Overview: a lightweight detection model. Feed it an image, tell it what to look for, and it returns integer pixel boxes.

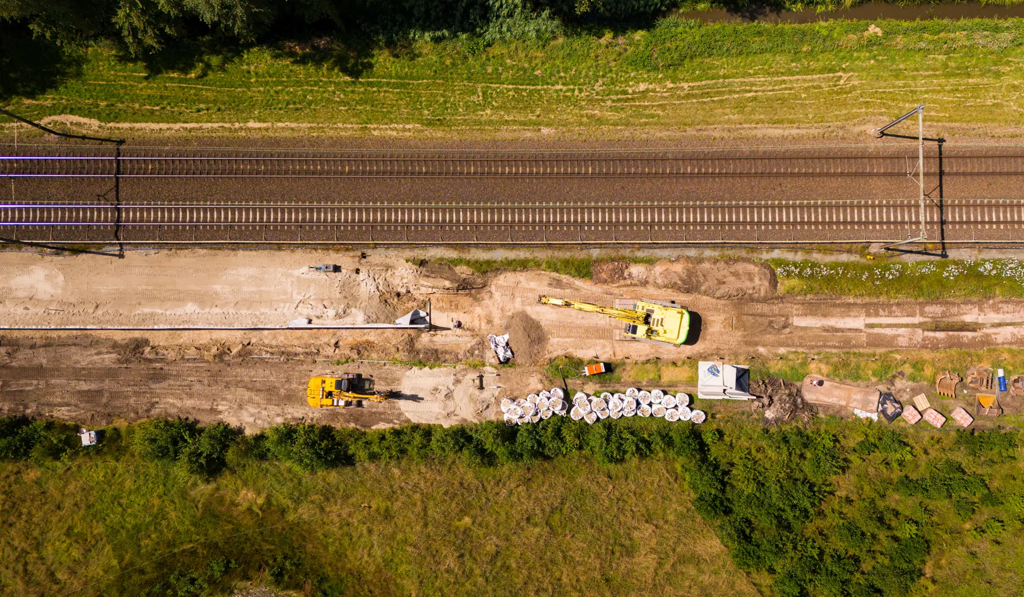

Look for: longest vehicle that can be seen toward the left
[306,375,395,409]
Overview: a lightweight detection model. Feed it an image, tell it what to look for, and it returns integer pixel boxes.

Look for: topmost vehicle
[535,294,693,349]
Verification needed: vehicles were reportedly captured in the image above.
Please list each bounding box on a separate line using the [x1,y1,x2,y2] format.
[306,375,395,409]
[535,294,693,349]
